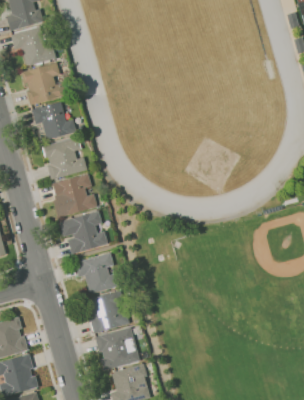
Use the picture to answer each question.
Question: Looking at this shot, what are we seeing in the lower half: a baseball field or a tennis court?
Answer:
baseball field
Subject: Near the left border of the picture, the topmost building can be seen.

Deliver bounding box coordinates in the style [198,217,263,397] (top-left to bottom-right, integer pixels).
[6,0,44,32]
